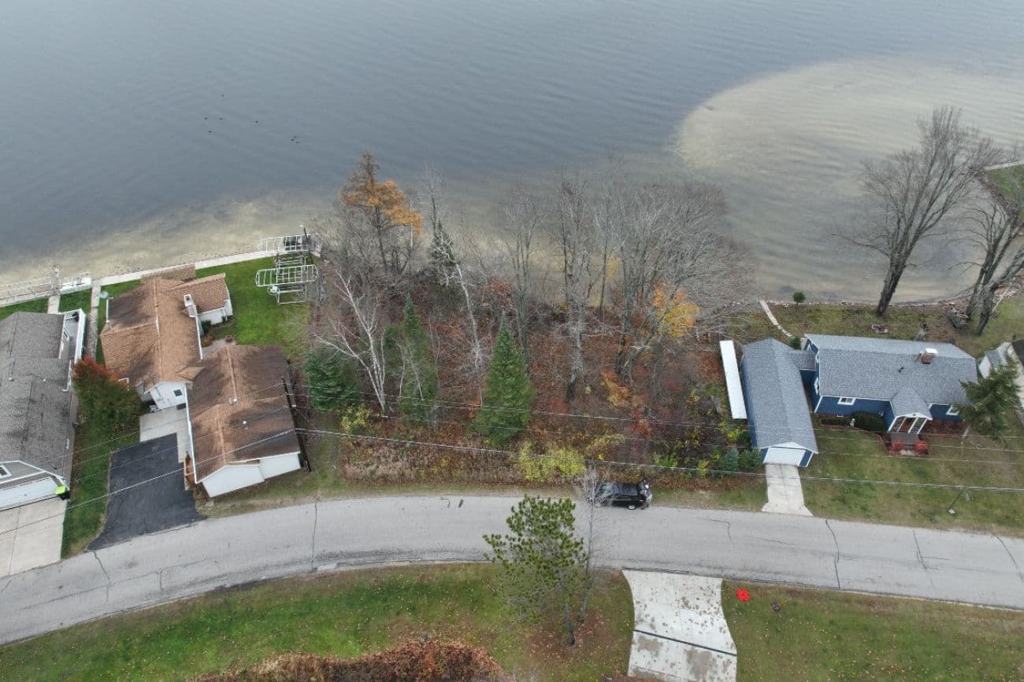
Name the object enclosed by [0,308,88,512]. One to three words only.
house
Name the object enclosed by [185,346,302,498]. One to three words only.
building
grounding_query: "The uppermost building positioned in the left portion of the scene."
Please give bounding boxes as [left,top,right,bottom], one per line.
[96,265,233,409]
